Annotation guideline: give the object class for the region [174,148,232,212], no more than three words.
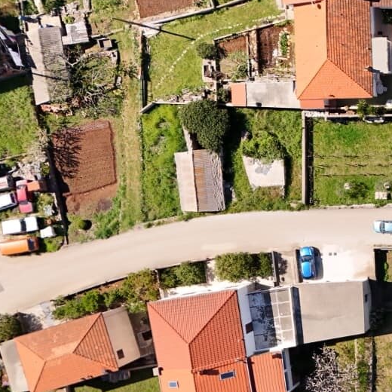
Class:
barn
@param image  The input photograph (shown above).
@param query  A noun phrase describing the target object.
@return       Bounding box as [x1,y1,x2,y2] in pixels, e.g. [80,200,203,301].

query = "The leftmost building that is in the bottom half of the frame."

[0,303,153,392]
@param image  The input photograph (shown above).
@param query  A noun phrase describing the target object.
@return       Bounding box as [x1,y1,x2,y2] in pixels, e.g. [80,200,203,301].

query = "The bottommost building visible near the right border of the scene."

[294,275,377,344]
